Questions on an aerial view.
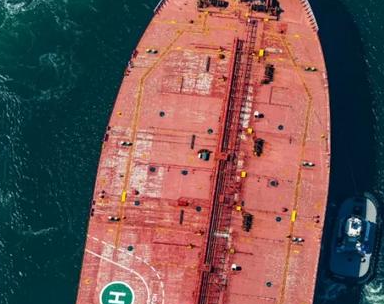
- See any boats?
Yes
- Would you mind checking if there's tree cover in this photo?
No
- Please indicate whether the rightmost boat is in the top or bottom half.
bottom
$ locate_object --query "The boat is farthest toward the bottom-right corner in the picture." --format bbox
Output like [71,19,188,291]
[327,193,382,284]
